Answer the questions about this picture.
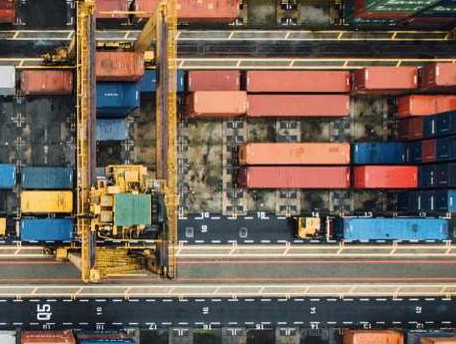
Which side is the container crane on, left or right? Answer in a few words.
left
